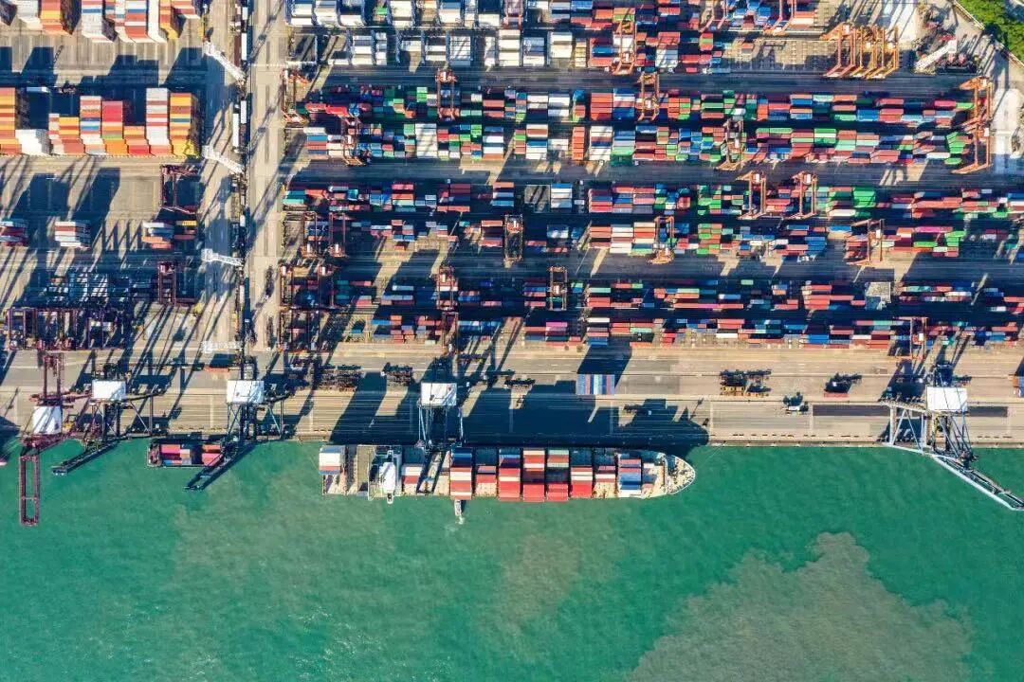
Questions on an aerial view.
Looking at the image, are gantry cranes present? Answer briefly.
Yes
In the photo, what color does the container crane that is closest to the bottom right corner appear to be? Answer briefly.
white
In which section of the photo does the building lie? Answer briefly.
right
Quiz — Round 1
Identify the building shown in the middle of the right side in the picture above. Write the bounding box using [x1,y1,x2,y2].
[861,284,889,309]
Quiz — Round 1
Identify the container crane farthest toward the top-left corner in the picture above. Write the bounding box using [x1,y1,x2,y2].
[160,164,195,217]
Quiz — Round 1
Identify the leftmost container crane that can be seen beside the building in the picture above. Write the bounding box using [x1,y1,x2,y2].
[849,216,885,271]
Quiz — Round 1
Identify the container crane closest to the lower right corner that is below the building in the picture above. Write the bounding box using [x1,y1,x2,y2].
[868,368,1024,504]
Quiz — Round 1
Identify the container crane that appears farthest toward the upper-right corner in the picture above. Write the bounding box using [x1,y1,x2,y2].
[950,76,991,132]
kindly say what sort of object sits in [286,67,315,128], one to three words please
container crane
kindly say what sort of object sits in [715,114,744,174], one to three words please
container crane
